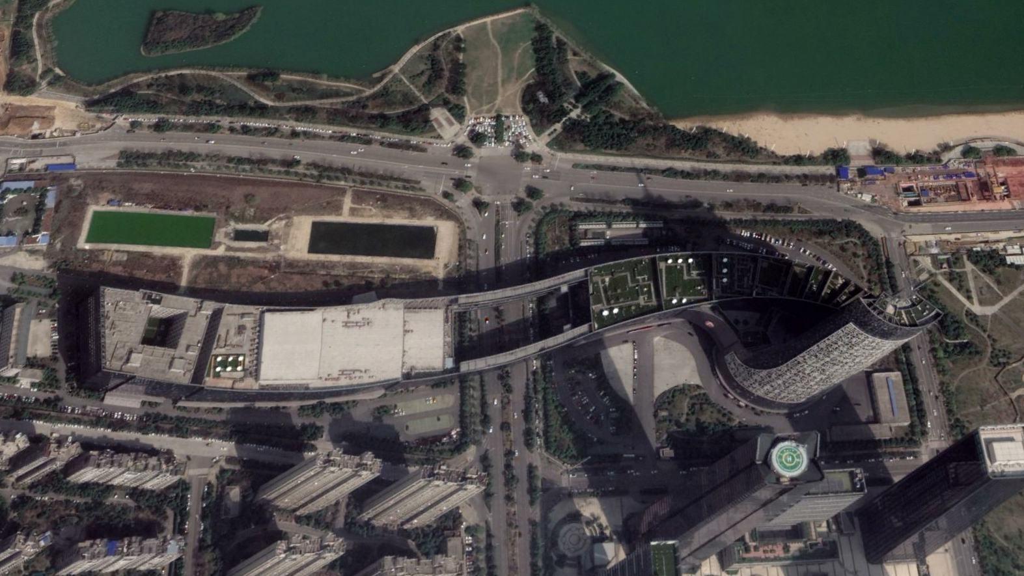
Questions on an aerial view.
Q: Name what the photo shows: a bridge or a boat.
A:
bridge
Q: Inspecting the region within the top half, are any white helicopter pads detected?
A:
No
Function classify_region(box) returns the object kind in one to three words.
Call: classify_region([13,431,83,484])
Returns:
building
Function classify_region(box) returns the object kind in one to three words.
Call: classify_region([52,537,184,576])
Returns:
building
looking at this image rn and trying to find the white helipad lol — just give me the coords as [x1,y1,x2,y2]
[771,441,809,478]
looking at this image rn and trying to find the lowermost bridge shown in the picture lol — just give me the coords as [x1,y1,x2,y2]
[452,323,594,377]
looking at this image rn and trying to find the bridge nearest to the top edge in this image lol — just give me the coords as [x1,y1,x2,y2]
[454,269,587,308]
